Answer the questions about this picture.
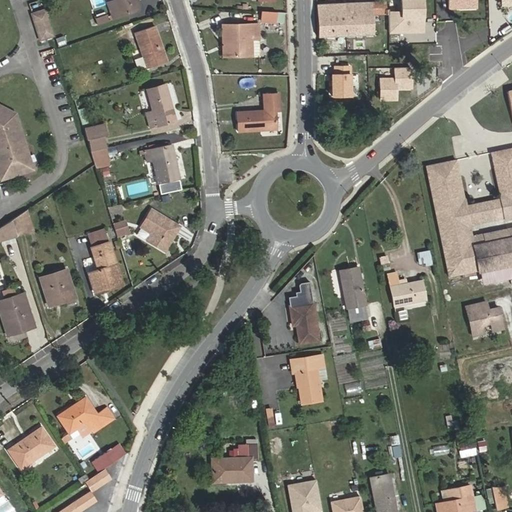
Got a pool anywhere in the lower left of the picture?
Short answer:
Yes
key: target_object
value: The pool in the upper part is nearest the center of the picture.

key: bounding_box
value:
[120,178,153,200]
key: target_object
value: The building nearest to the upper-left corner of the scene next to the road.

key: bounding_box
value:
[30,8,54,42]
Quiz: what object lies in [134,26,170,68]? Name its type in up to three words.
house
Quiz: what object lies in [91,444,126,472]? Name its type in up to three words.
barn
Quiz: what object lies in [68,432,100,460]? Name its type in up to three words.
swimming pool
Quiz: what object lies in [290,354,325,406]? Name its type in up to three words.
house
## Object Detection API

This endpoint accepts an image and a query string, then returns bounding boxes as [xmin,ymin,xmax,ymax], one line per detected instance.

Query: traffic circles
[250,154,342,246]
